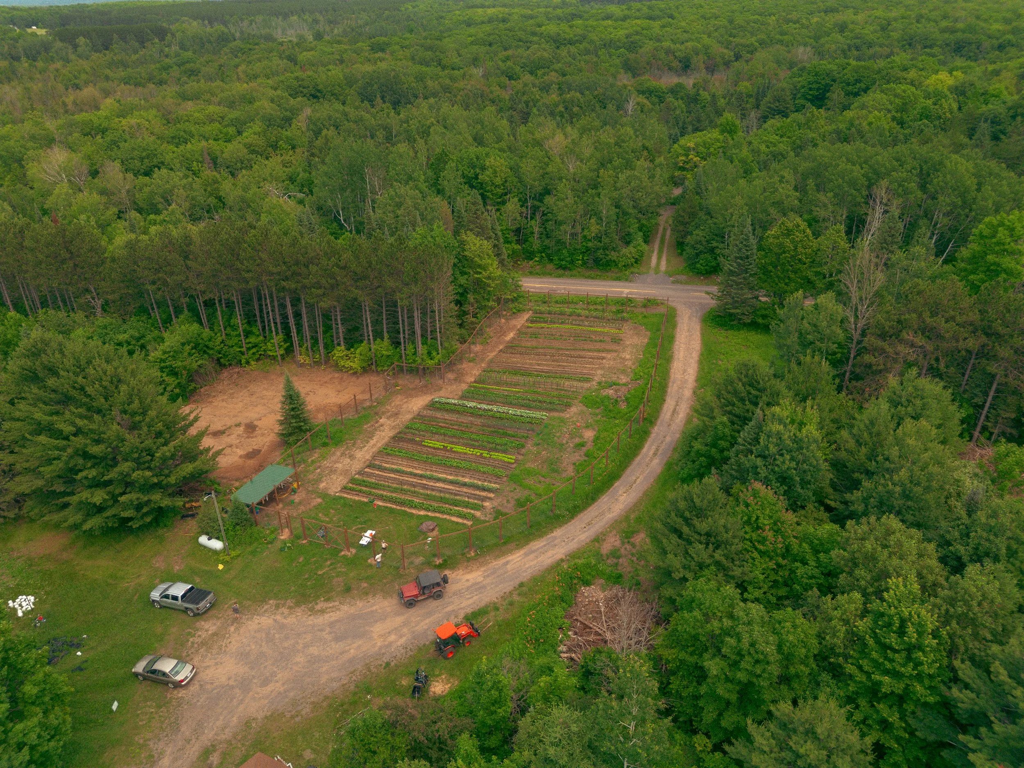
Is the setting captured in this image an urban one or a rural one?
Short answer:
rural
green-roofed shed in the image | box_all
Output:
[234,456,301,523]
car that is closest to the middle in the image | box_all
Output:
[393,569,448,609]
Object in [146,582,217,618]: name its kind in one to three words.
truck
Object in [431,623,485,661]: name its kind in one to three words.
work vehicle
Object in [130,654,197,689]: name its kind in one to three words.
car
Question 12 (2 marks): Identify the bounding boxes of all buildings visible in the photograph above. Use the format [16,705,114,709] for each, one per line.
[240,752,294,768]
[234,456,301,523]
